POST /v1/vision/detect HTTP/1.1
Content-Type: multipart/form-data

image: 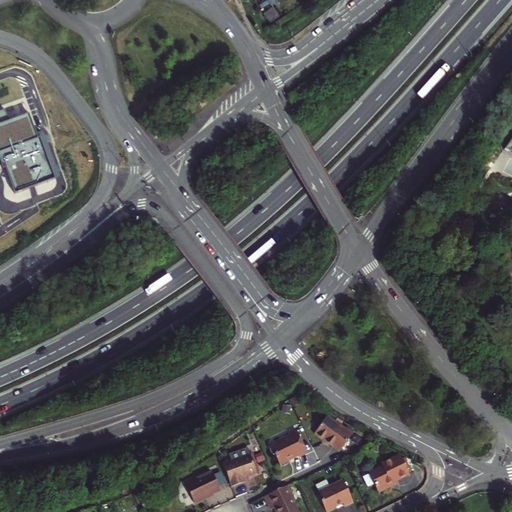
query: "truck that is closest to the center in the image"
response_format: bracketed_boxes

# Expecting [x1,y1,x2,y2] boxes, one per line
[248,238,274,262]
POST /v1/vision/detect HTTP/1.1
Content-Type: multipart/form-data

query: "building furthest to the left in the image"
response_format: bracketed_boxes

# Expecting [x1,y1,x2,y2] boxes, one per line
[0,107,54,190]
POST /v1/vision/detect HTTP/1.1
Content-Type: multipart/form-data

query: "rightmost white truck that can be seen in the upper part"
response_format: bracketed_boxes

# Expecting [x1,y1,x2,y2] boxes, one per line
[417,62,452,98]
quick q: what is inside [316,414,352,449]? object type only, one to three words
house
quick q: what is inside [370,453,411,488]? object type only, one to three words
house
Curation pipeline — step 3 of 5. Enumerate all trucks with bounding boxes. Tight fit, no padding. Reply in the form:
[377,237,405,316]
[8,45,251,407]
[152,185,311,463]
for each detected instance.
[144,274,174,295]
[248,238,274,262]
[417,62,452,98]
